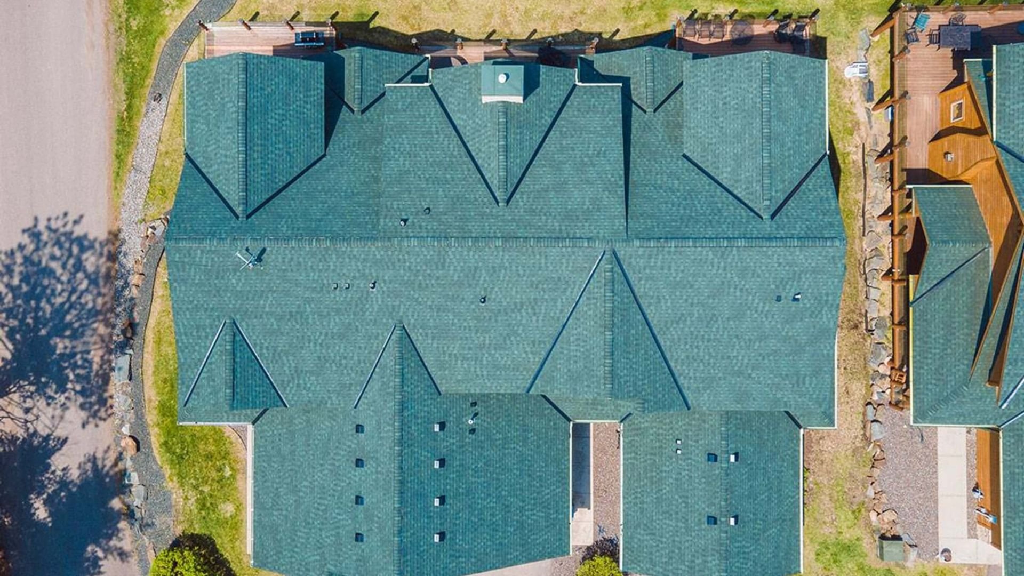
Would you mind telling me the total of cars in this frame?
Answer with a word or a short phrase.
zero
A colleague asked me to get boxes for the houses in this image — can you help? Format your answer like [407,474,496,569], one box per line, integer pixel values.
[890,34,1024,576]
[166,47,845,576]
